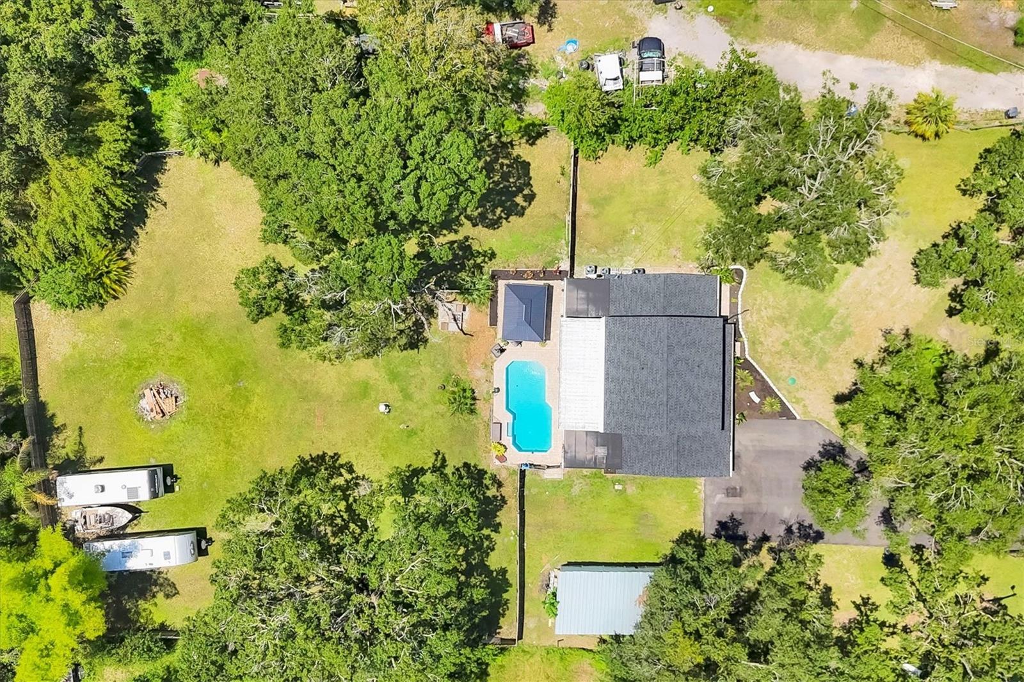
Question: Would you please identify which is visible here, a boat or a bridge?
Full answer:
Visible in the photo is a boat.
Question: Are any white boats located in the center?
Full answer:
No, looking in the center, there is no white boat.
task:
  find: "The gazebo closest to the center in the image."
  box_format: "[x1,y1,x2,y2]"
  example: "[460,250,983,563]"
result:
[502,284,549,341]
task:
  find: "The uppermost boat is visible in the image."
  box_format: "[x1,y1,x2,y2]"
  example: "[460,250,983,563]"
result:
[64,507,141,535]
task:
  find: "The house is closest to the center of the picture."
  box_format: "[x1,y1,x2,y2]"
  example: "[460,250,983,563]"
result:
[558,272,735,477]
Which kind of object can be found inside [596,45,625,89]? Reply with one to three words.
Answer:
van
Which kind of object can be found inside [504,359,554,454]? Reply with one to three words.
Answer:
swimming pool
